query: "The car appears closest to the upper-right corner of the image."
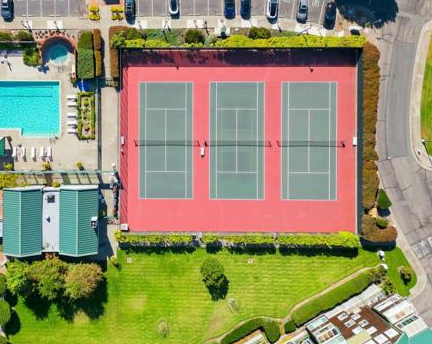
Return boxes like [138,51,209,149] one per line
[323,1,338,27]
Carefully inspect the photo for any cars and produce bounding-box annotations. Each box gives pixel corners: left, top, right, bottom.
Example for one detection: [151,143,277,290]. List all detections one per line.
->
[266,0,278,18]
[168,0,178,14]
[224,0,236,16]
[124,0,136,18]
[297,0,309,21]
[323,1,338,27]
[0,0,12,18]
[240,0,251,16]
